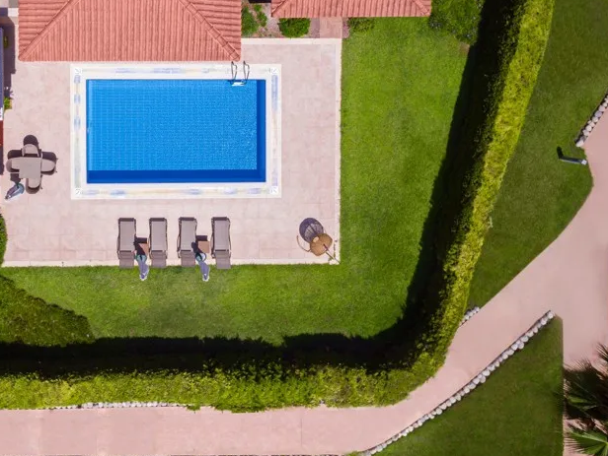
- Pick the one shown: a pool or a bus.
pool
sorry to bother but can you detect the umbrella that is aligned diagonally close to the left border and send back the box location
[4,182,23,201]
